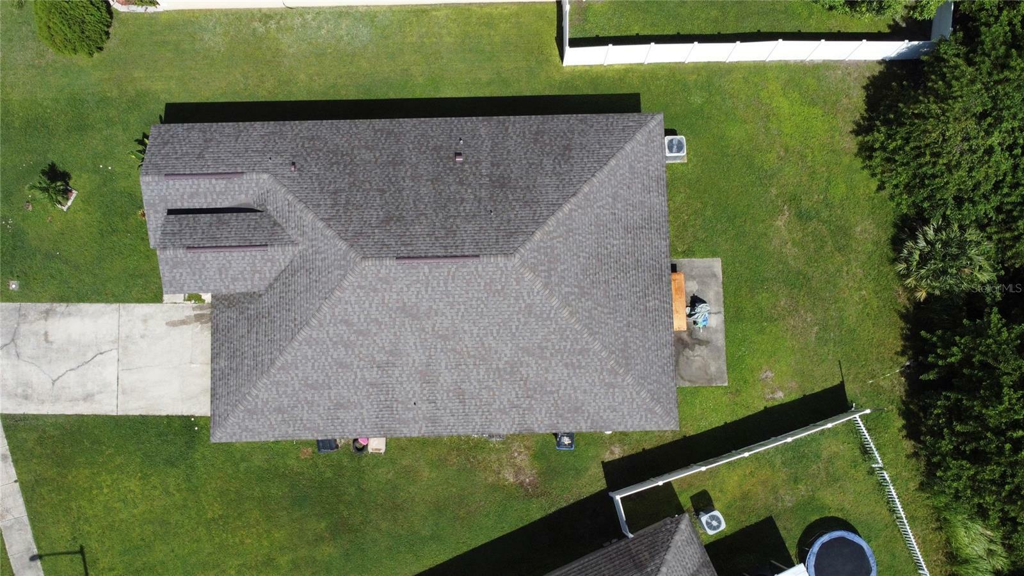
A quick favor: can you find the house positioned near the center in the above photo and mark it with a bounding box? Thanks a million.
[139,114,678,442]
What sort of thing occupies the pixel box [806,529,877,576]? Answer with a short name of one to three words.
trampoline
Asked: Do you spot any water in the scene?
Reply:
No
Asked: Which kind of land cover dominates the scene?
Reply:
grass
